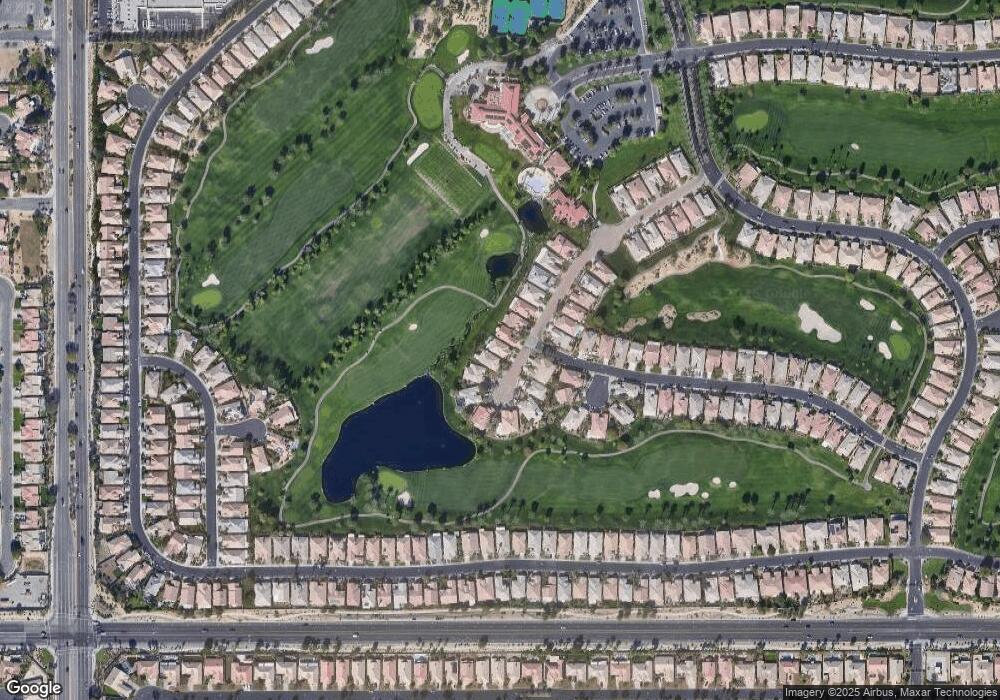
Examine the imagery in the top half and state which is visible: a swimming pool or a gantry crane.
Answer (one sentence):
You can see a swimming pool in the top half.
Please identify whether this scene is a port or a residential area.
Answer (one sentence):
The area seen from above is a residential area.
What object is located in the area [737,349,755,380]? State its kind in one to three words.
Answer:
house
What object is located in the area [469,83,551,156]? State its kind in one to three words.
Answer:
building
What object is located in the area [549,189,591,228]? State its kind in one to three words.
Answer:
building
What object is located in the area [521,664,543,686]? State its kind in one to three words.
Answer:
house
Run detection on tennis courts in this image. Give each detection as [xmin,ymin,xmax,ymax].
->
[491,0,509,31]
[530,0,547,18]
[509,0,528,34]
[547,0,565,20]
